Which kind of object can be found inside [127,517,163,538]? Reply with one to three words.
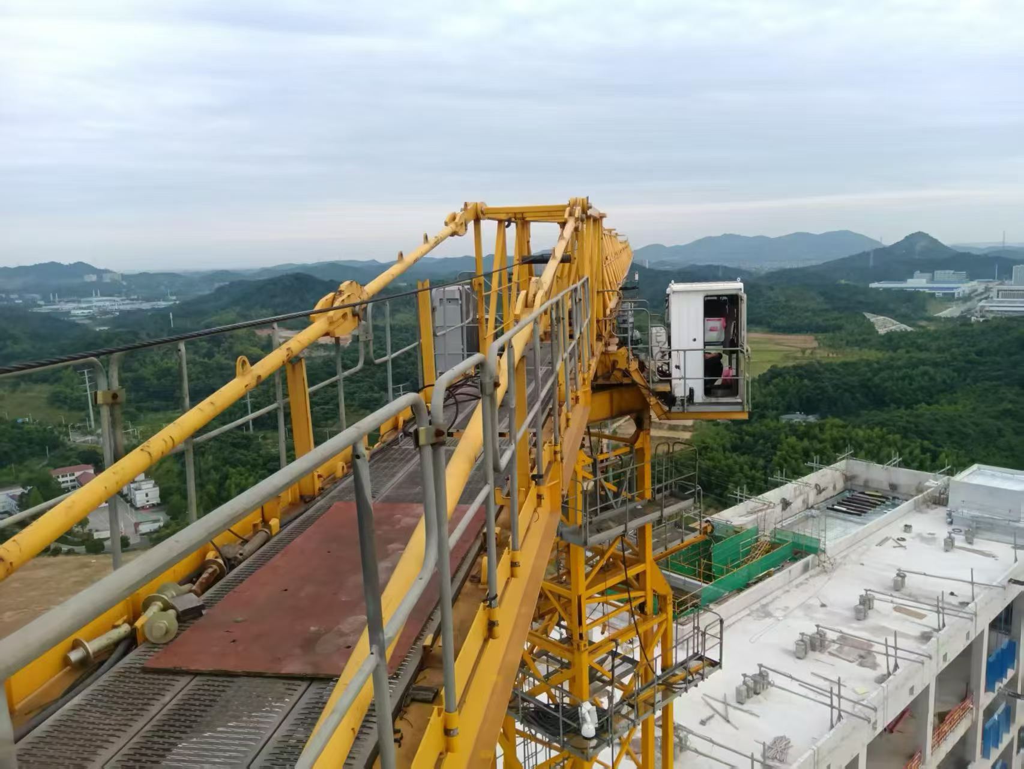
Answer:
building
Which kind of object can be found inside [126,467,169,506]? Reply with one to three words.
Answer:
building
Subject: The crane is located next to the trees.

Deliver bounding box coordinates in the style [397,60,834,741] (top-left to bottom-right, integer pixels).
[0,192,755,769]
